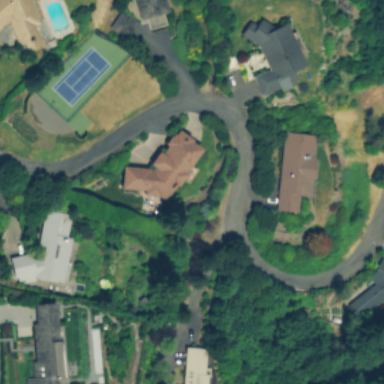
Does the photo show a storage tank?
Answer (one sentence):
No, no storage tank is visible in the scene.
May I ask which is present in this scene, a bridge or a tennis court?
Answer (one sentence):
There is a tennis court in the scene.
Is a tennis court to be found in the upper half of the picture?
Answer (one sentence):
Yes, I can see a tennis court in the upper half of the picture.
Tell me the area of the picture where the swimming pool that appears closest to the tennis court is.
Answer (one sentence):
You can find the swimming pool that appears closest to the tennis court in the top left area of the picture.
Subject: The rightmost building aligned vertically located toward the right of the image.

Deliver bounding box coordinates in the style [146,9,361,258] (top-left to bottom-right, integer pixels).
[279,132,316,213]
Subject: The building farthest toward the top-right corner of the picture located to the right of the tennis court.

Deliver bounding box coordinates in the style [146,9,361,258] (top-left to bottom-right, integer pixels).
[242,18,308,96]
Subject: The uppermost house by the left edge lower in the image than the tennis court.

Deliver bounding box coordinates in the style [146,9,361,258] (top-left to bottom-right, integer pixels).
[11,212,72,284]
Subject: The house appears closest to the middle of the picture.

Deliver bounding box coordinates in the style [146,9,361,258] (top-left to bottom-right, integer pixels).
[123,131,206,199]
